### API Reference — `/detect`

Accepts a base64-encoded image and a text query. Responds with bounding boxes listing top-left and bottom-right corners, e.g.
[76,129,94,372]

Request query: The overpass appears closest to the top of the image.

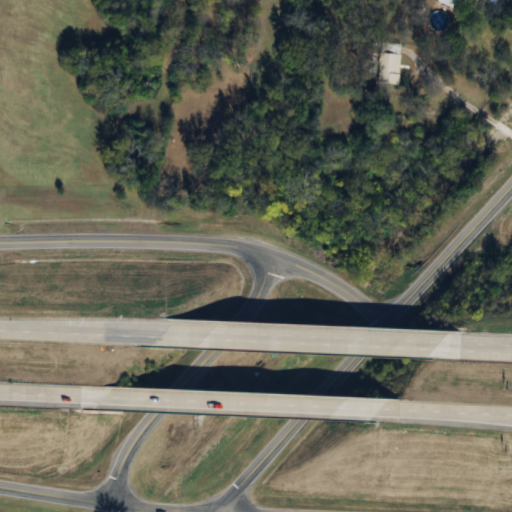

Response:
[158,319,466,360]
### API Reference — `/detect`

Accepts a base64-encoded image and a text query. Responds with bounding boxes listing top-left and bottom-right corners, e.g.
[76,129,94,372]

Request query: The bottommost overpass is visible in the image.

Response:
[74,386,408,424]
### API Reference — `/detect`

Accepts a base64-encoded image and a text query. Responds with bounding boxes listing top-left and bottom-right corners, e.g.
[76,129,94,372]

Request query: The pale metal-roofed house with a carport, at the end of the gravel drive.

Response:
[379,44,409,84]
